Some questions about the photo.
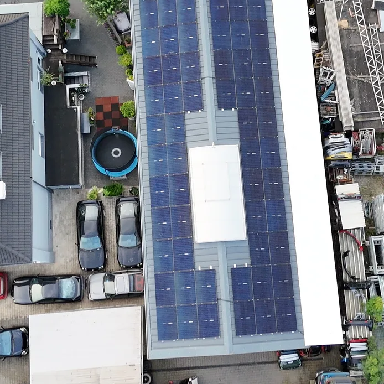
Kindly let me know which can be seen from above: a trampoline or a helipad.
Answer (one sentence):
The image shows a trampoline.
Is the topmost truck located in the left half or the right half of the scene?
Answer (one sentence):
You can find the topmost truck on the right side of the picture.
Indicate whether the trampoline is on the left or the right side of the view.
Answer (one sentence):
You can find the trampoline on the left side of the picture.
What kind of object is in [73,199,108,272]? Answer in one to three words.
car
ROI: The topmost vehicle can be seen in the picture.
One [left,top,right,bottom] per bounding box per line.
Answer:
[332,184,368,229]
